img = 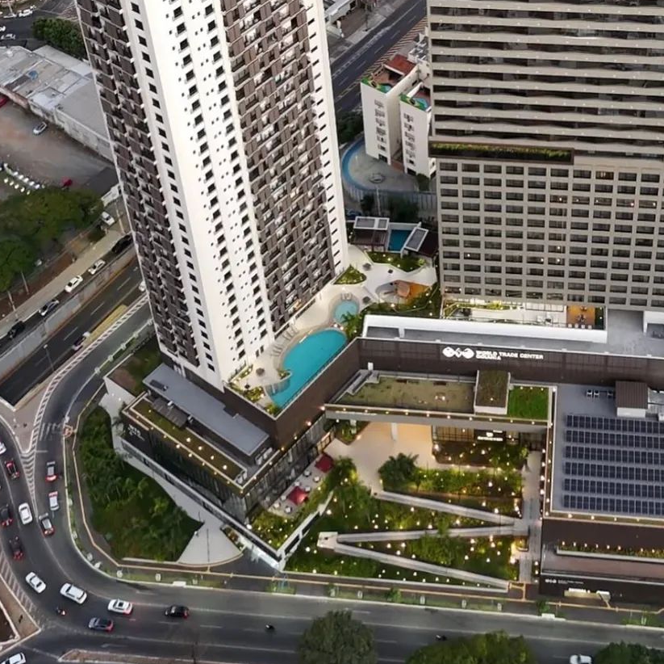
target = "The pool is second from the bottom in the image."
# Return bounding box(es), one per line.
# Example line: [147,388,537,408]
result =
[332,299,360,324]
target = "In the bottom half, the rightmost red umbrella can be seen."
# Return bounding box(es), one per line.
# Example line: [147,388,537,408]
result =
[313,445,334,464]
